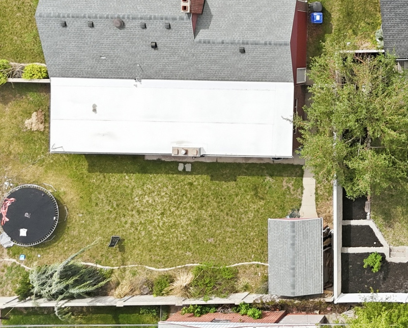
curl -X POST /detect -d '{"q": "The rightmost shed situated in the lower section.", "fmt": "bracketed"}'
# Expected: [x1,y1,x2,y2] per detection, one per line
[268,217,325,296]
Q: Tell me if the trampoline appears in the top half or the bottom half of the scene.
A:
bottom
